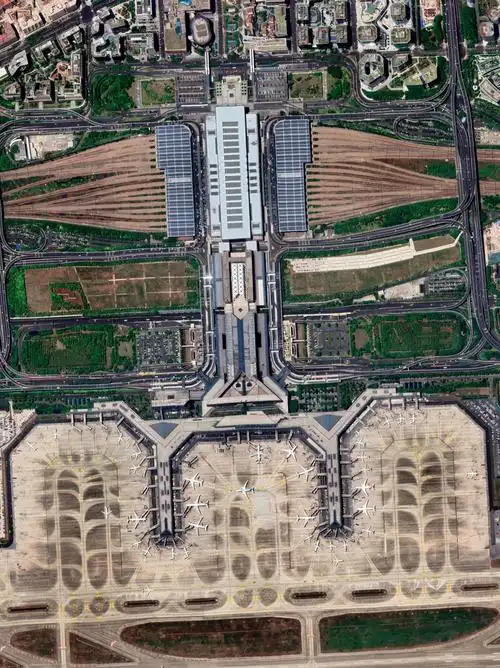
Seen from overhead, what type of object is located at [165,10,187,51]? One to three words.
building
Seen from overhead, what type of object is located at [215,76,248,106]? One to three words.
building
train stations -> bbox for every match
[206,105,263,239]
